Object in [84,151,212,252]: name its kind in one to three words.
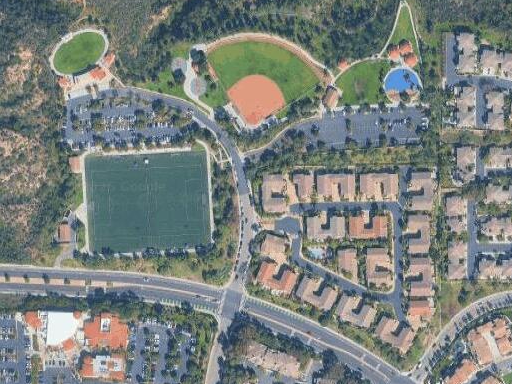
soccer field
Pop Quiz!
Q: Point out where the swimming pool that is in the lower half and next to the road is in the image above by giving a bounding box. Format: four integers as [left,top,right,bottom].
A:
[306,244,326,259]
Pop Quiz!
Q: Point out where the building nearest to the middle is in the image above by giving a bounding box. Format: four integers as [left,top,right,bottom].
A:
[262,173,287,214]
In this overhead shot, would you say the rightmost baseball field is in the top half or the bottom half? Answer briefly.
top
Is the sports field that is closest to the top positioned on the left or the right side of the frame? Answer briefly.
left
